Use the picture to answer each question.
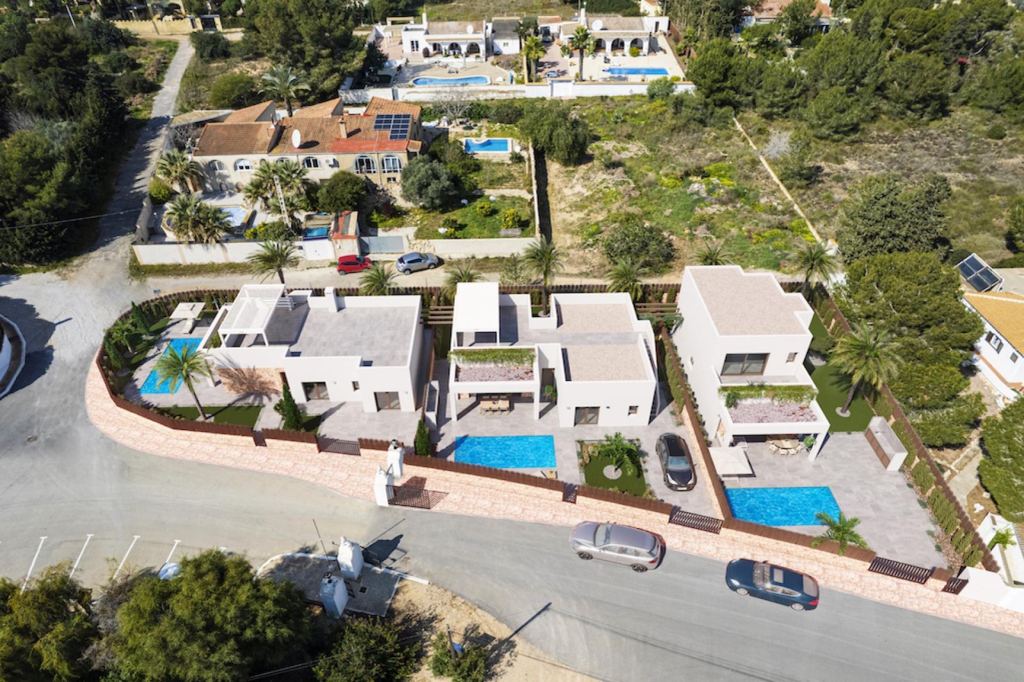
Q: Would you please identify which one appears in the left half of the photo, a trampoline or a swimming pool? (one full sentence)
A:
Visible in the left half of the photo is a swimming pool.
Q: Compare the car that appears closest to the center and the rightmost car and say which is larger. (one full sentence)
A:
The car that appears closest to the center is smaller than the rightmost car.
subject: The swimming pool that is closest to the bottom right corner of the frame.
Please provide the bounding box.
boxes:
[720,483,847,530]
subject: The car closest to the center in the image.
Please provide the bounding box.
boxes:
[393,249,441,275]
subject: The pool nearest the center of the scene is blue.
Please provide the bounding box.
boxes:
[450,433,562,472]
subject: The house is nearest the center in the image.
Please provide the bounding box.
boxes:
[449,283,661,427]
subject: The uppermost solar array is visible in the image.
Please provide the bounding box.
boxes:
[369,110,406,146]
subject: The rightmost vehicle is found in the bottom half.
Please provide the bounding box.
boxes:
[723,551,823,611]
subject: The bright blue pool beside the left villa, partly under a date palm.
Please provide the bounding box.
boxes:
[134,336,208,396]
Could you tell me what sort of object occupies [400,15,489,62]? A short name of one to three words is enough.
house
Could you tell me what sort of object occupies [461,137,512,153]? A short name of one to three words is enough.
swimming pool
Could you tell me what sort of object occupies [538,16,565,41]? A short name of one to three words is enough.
building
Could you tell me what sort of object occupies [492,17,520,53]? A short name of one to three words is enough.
shed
